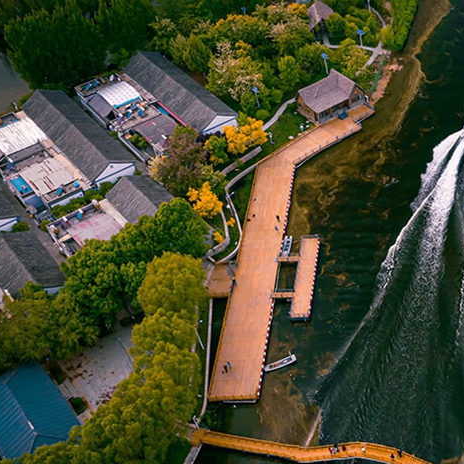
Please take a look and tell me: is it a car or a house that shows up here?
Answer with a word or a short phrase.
house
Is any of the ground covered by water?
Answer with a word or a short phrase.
Yes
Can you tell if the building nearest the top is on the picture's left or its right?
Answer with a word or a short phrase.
right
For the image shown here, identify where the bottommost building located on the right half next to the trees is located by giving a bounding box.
[290,70,368,128]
